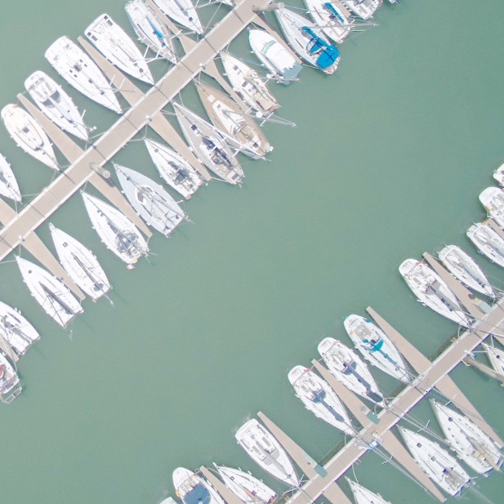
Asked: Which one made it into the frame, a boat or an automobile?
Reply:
boat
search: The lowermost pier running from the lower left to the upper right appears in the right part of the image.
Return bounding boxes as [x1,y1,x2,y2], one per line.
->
[282,297,504,504]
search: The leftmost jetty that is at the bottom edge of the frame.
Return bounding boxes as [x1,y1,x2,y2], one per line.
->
[200,464,244,504]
